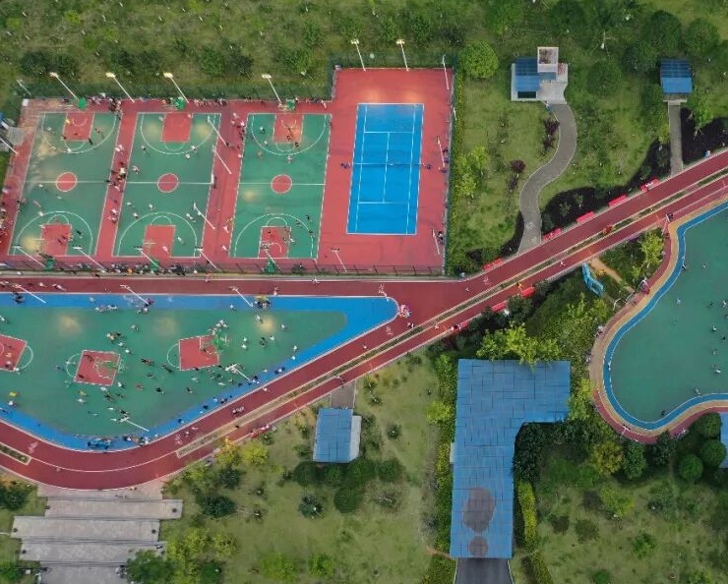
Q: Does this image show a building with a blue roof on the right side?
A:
Yes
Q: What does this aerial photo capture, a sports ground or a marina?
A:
sports ground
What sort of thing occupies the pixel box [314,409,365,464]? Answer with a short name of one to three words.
building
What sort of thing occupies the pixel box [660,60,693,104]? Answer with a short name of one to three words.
building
